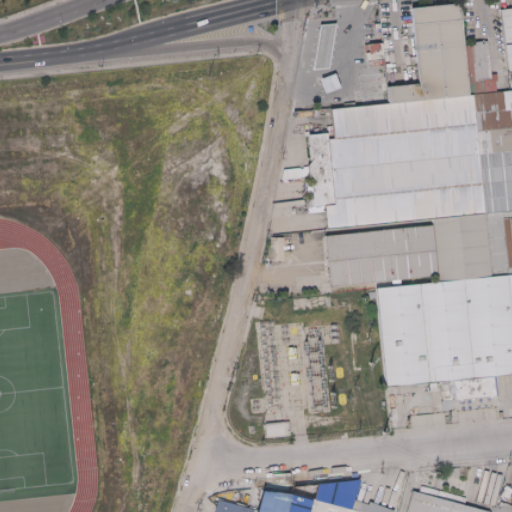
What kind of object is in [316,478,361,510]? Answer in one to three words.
building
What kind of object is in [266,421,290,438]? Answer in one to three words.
building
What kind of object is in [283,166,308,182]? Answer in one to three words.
shed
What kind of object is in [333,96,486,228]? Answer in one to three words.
warehouse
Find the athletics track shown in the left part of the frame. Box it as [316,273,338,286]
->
[0,216,98,512]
